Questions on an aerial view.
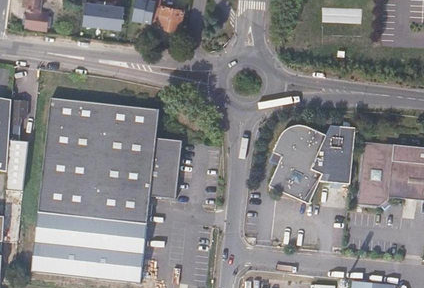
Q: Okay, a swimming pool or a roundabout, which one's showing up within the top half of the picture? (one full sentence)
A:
The one visible within the top half of the picture is a roundabout.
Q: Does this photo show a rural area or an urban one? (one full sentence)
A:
The land in this view is best described as urban.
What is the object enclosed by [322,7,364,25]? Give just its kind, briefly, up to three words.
shed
